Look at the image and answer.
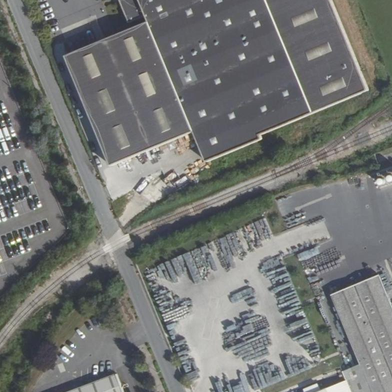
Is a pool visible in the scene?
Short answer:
No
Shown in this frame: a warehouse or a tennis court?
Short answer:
warehouse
